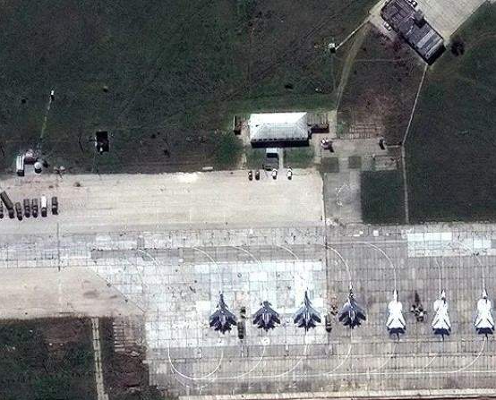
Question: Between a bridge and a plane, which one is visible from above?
plane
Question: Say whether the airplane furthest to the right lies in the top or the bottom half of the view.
bottom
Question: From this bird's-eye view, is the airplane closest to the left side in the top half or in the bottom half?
bottom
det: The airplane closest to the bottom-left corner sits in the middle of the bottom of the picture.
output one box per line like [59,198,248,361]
[208,292,236,331]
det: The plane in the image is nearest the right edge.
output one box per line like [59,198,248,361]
[475,291,495,331]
